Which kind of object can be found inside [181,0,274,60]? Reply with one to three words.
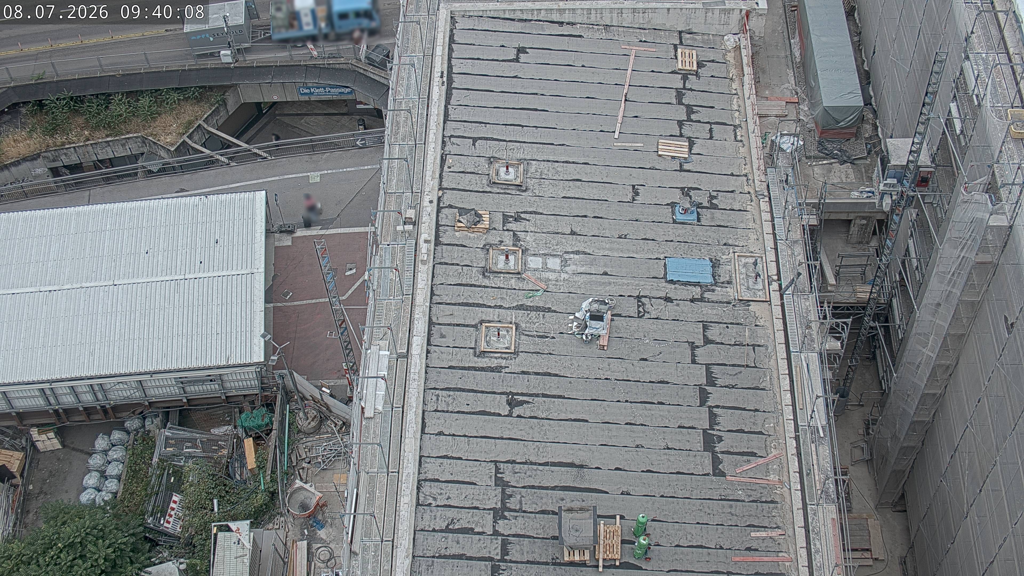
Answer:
trailer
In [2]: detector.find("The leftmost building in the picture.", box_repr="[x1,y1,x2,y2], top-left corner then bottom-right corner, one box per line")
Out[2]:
[0,190,271,435]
